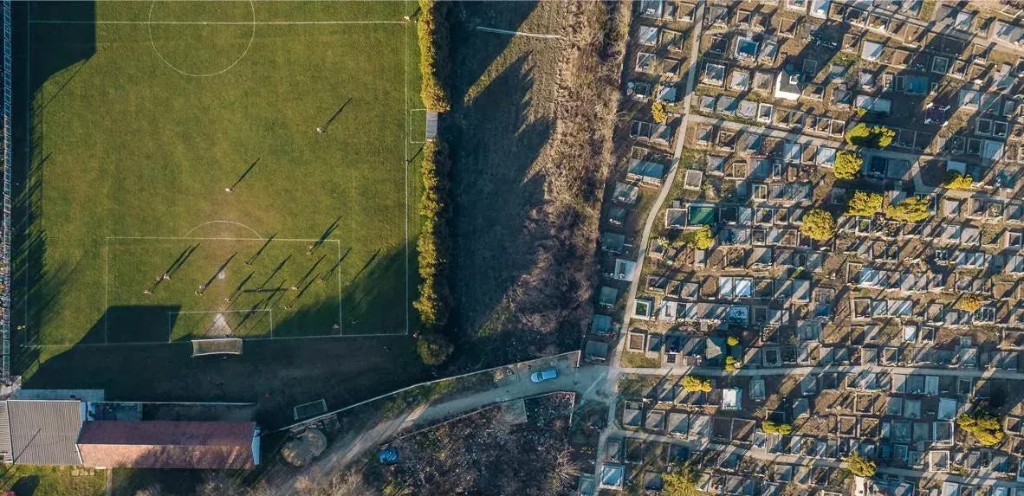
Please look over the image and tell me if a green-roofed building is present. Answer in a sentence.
No, the picture doesn't show any green-roofed building.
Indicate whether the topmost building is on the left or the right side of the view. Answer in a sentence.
The topmost building appears in the right half of the scene.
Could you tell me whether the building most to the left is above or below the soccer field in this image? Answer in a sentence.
Looking at the scene, the building most to the left is located below the soccer field.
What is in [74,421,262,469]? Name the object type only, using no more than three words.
building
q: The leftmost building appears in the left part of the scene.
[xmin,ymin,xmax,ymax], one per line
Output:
[0,400,97,465]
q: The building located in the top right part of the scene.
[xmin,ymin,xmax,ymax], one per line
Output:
[776,64,809,99]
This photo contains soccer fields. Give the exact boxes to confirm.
[11,0,424,386]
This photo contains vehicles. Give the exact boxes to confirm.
[531,368,558,383]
